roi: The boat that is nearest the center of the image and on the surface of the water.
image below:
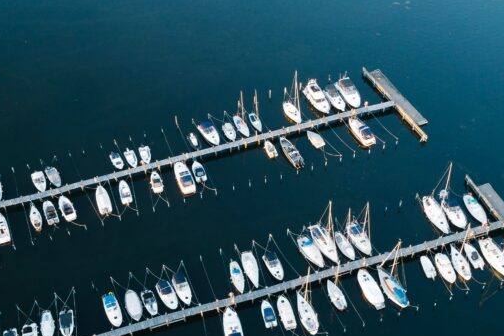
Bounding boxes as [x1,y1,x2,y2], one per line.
[260,140,281,171]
